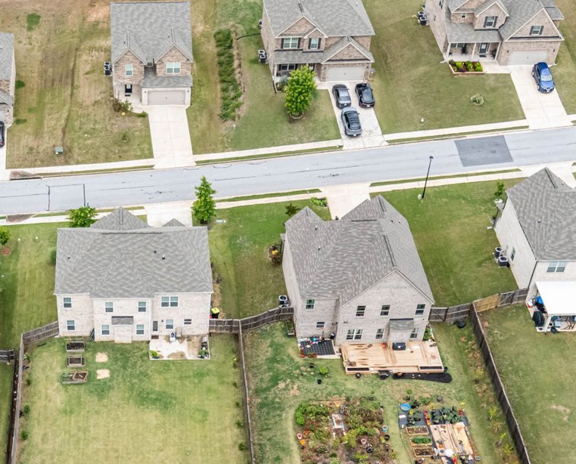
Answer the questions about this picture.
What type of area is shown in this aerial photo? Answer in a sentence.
This looks like a residential area.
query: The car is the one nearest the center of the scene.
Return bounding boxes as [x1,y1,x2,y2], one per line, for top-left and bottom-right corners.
[343,109,363,133]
